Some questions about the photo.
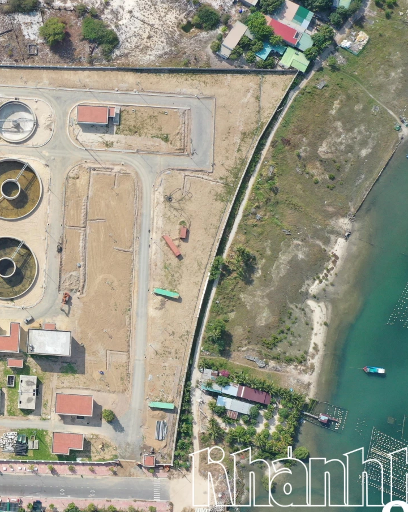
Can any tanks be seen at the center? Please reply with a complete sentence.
No, at the center there is no tank.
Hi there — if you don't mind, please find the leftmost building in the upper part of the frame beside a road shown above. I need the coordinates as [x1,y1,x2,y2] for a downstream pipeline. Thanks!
[76,106,108,126]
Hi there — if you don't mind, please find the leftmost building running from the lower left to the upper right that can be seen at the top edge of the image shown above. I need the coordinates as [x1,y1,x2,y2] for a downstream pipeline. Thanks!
[216,21,248,60]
